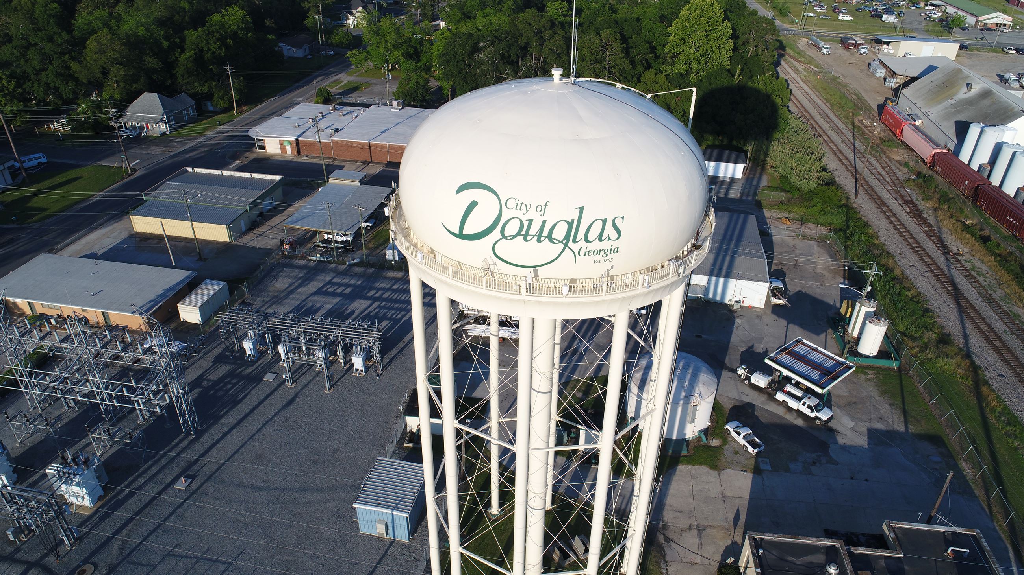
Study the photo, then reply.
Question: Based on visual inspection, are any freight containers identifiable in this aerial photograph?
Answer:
Yes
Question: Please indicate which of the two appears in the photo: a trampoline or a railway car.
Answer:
railway car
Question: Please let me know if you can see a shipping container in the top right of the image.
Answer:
No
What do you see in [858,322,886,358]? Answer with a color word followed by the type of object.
white storage tank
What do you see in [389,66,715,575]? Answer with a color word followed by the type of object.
white water tower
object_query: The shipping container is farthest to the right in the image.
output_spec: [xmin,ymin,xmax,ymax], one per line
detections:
[176,278,230,324]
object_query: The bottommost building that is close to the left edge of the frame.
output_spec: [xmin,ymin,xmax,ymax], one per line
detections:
[0,252,199,328]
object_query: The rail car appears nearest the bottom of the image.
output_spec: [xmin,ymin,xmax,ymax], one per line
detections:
[974,182,1024,237]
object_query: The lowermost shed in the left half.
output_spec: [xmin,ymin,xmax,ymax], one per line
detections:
[351,448,435,544]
